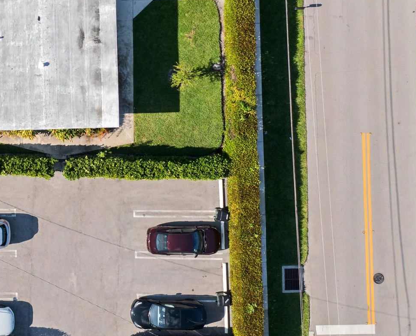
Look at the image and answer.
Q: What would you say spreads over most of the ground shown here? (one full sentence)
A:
The largest share of the image is taken up by paved ground.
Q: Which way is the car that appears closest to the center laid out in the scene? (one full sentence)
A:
The car that appears closest to the center is oriented horizontally.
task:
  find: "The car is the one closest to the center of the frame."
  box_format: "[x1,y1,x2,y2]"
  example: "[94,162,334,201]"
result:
[145,223,221,259]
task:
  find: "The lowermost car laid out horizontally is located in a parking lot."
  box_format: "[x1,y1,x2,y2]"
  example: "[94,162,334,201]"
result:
[129,295,207,333]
